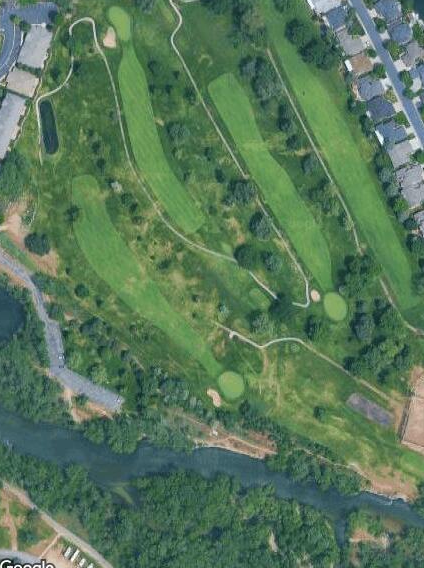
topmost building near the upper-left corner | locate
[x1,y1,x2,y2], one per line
[17,23,53,68]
